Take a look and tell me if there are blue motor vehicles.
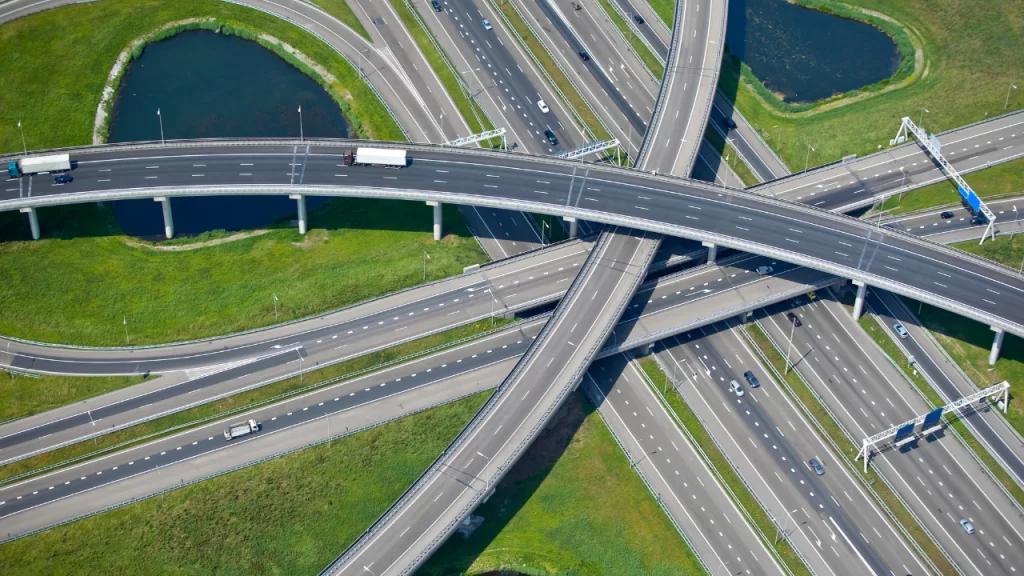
Yes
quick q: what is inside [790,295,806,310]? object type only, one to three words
car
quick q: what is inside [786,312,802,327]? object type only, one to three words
car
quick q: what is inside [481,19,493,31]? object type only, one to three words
vehicle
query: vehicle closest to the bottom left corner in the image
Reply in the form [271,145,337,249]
[225,418,261,437]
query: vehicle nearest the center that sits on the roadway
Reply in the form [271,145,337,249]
[544,129,557,142]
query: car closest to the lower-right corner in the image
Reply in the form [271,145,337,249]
[958,517,977,535]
